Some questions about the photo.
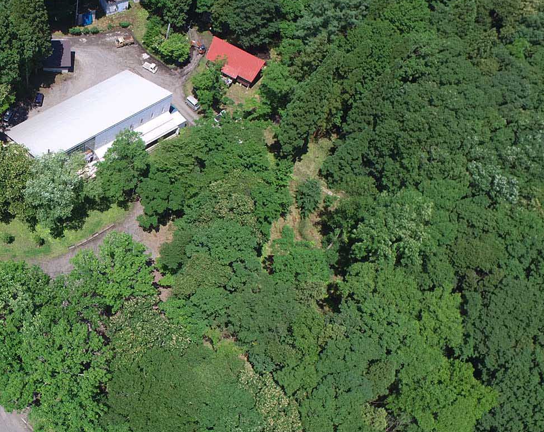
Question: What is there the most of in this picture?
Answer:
trees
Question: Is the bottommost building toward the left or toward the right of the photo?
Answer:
left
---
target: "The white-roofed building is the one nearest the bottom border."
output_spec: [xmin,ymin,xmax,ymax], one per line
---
[5,69,186,181]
